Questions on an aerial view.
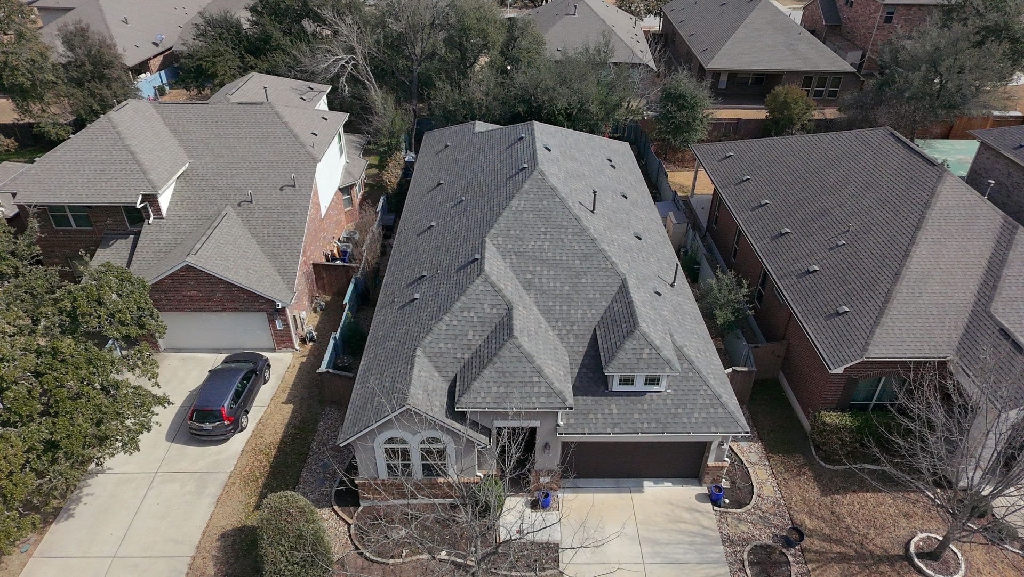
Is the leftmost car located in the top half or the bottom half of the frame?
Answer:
bottom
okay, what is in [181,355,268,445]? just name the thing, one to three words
car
